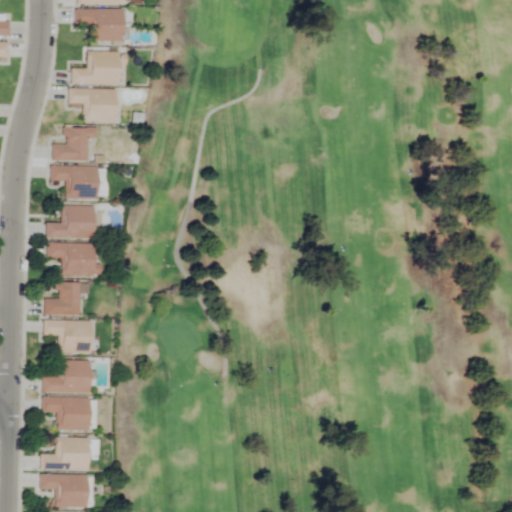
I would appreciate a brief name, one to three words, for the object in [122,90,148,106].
swimming pool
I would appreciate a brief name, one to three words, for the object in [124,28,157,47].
swimming pool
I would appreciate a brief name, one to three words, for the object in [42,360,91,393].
house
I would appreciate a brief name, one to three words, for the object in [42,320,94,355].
house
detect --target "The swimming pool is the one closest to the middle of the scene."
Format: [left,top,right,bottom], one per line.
[108,209,122,226]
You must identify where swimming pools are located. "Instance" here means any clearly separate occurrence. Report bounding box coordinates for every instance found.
[96,362,108,386]
[122,90,148,106]
[124,28,157,47]
[108,209,122,226]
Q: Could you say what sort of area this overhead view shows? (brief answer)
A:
golf course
